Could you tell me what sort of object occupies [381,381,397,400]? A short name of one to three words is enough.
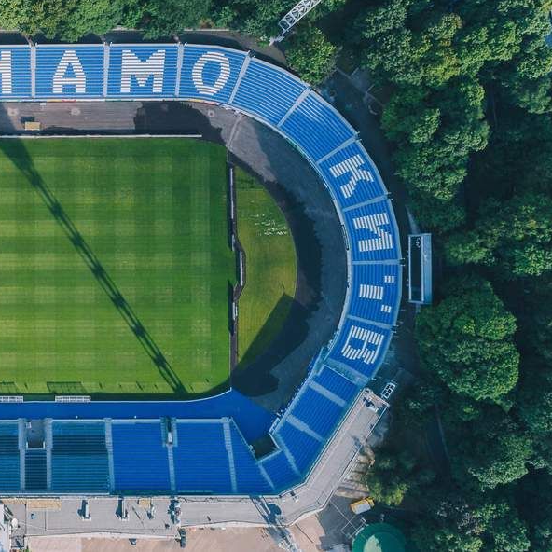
car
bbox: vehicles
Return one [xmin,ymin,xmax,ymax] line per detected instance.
[351,500,375,517]
[381,381,397,400]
